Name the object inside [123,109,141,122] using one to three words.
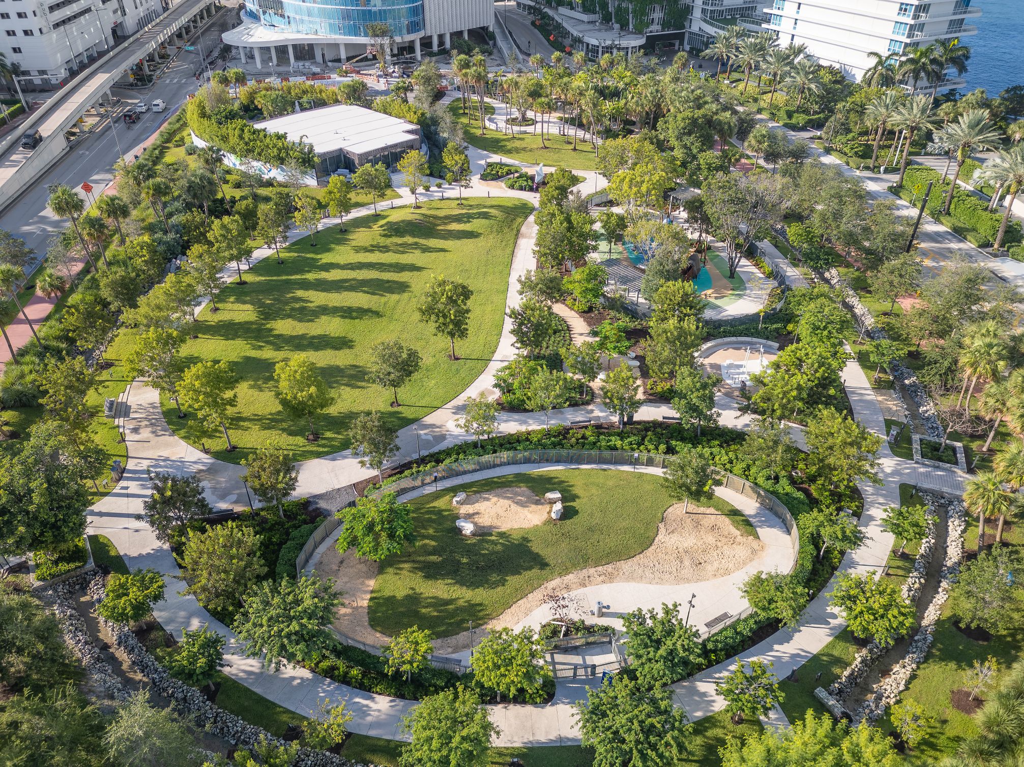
vehicle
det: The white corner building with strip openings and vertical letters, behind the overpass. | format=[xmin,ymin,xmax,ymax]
[0,0,160,86]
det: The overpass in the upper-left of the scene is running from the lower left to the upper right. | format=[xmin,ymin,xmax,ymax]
[0,0,232,217]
